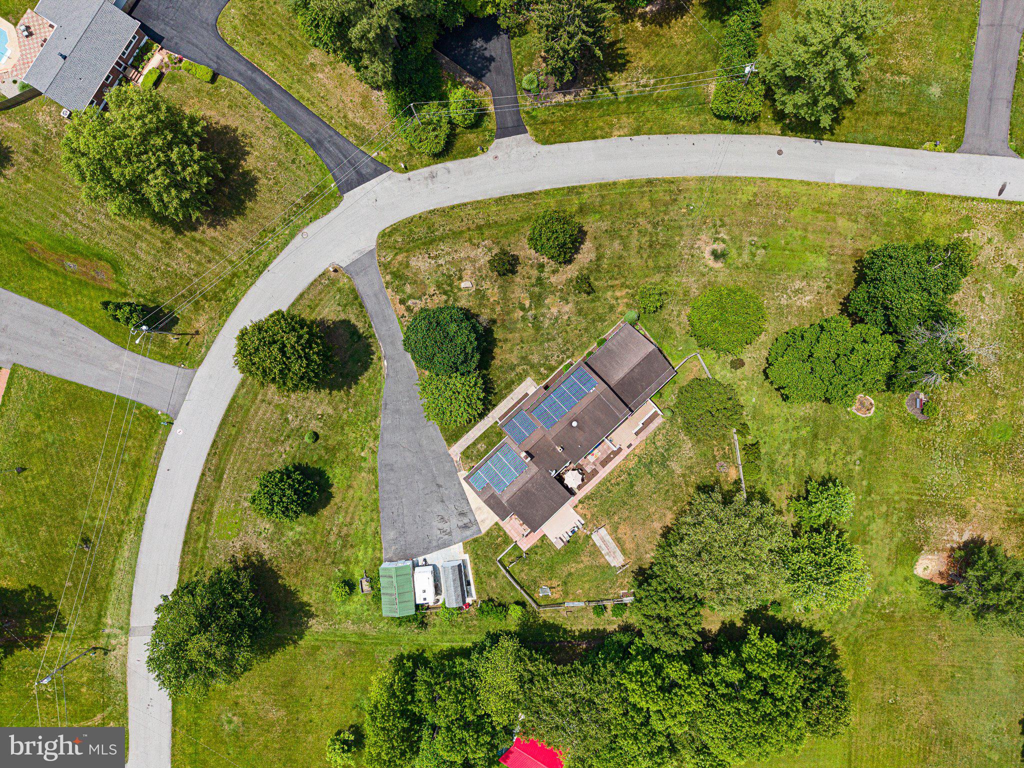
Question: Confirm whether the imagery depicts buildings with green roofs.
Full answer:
Yes, there's a building with a green roof here.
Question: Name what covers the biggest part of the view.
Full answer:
The scene is dominated by grass.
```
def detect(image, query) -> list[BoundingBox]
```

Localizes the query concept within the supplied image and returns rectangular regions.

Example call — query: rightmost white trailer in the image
[415,557,435,603]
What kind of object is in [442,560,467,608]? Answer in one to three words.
shed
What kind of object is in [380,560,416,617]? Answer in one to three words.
building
